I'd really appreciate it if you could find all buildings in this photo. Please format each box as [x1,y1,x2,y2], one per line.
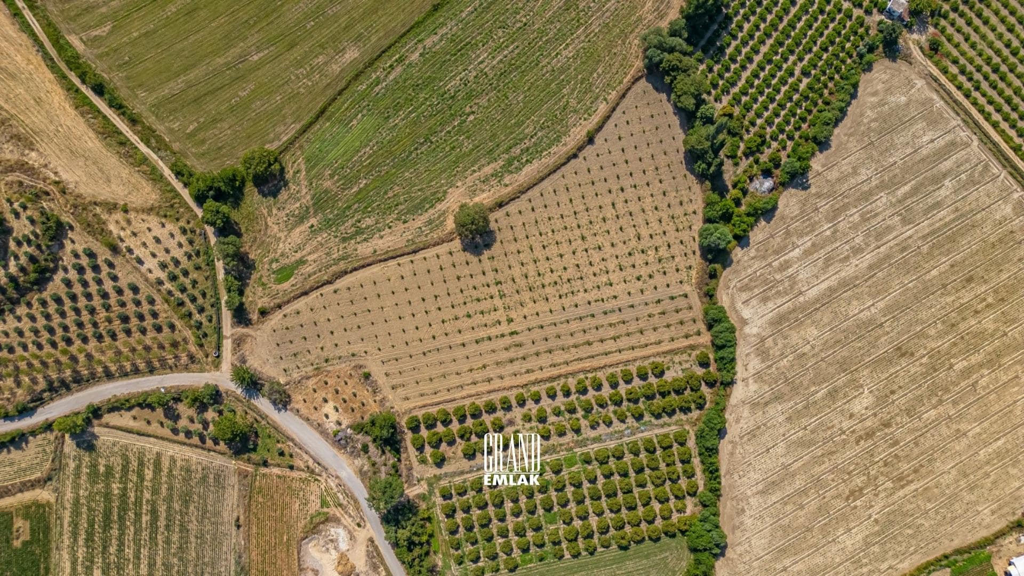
[1003,549,1024,576]
[879,0,907,20]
